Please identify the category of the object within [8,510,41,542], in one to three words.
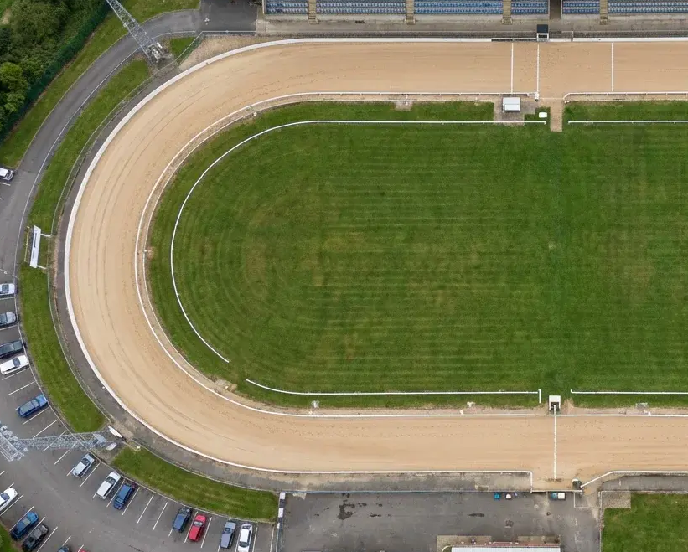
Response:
car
